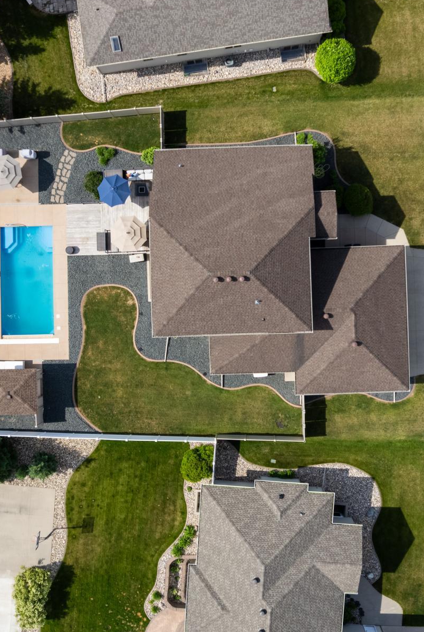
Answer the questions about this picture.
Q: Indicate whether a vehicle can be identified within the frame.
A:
No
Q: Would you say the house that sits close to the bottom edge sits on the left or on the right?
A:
right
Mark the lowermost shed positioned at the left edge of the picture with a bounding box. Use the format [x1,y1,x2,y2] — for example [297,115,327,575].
[0,364,48,416]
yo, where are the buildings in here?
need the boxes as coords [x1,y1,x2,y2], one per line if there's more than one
[184,472,382,632]
[77,0,332,75]
[0,364,48,416]
[147,144,410,395]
